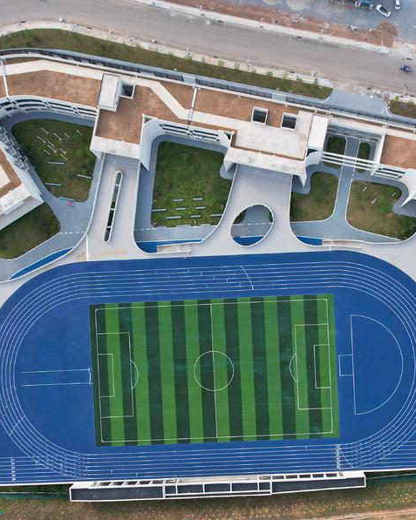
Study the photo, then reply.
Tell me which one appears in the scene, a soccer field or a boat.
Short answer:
soccer field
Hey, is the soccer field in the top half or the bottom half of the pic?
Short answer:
bottom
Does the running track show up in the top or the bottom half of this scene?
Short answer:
bottom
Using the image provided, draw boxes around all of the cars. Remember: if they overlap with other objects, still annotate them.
[395,0,401,9]
[376,3,391,16]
